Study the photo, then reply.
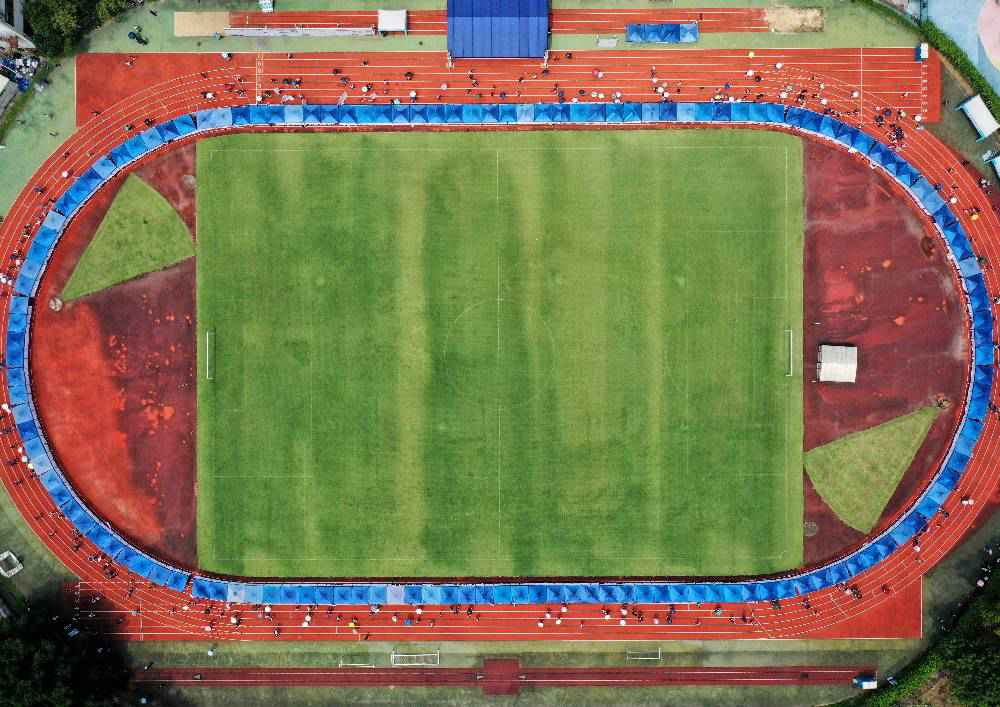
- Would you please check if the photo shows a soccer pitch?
Yes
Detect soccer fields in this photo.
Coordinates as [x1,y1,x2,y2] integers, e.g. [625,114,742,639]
[195,132,804,577]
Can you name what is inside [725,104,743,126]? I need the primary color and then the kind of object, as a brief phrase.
blue tent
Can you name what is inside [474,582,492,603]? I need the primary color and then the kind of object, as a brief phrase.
blue tent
